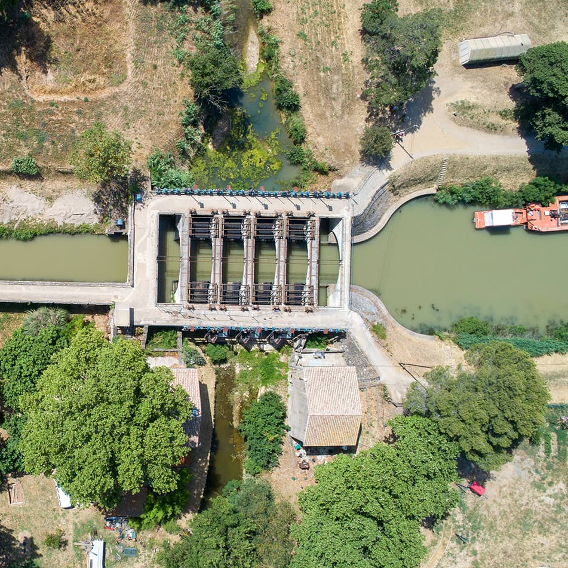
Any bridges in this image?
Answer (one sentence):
Yes, a bridge appears in the view.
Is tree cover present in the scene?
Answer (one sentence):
Yes, the picture does contain tree cover.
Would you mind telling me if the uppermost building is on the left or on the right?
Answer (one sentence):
The uppermost building is on the right side of the image.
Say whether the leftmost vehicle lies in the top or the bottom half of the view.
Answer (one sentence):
The bottom half of the photo is where the leftmost vehicle is.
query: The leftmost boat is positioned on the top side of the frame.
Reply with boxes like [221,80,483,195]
[469,208,527,230]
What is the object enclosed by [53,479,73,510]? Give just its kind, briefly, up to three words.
vehicle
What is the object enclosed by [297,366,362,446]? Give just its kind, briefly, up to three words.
barn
